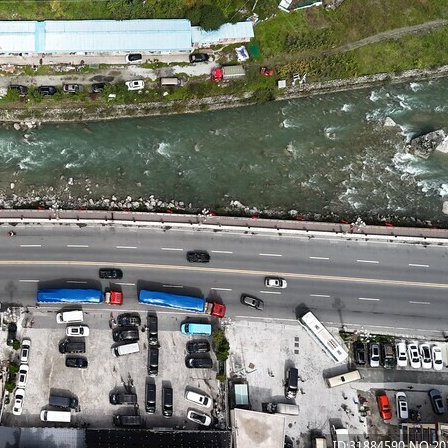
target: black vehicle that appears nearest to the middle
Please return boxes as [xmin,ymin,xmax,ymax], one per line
[187,250,210,262]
